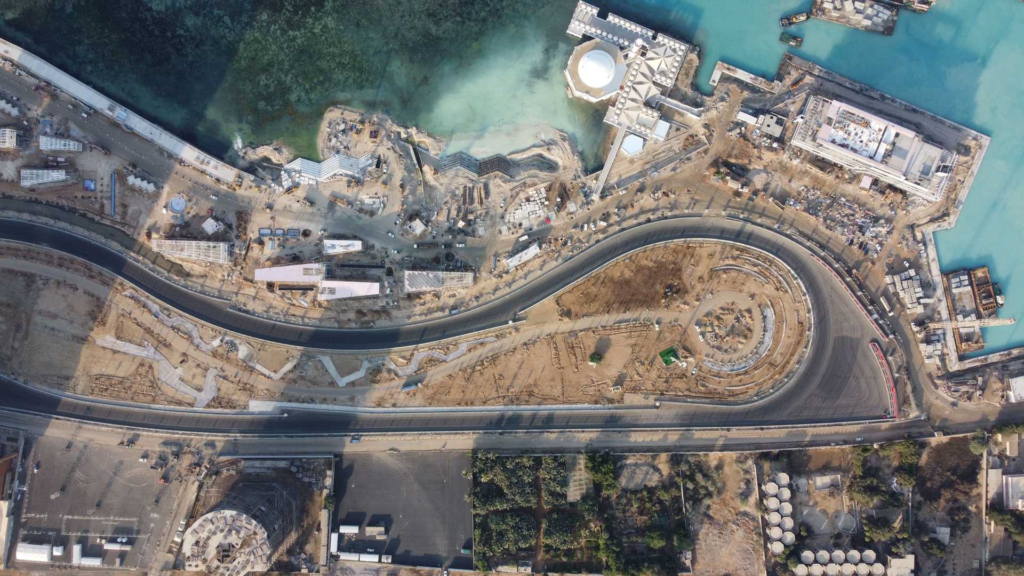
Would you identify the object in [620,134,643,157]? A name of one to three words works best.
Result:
building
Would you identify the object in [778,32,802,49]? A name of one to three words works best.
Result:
vessel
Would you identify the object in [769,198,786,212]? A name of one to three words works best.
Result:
vehicle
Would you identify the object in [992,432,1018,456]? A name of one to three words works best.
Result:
house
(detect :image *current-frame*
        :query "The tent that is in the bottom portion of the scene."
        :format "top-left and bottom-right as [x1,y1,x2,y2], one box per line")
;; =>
[15,542,55,562]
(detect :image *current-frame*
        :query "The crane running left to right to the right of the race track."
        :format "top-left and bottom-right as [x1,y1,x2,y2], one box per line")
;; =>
[906,319,1017,342]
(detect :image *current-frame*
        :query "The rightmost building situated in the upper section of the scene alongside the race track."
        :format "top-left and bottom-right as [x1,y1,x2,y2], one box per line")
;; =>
[783,94,959,207]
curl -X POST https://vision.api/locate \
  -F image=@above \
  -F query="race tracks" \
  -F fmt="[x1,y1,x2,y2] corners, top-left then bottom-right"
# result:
[0,216,902,435]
